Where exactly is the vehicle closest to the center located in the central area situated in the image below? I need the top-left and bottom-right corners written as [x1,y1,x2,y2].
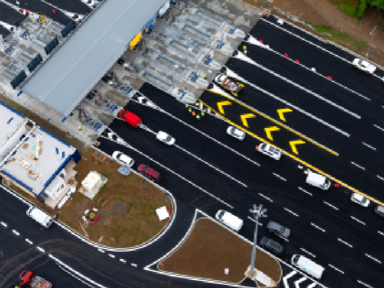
[156,131,176,146]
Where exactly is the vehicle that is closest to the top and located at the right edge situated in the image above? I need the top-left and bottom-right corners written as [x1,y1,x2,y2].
[351,59,376,75]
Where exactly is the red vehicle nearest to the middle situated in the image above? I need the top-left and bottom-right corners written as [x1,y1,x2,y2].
[138,166,161,182]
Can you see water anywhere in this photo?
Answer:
No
